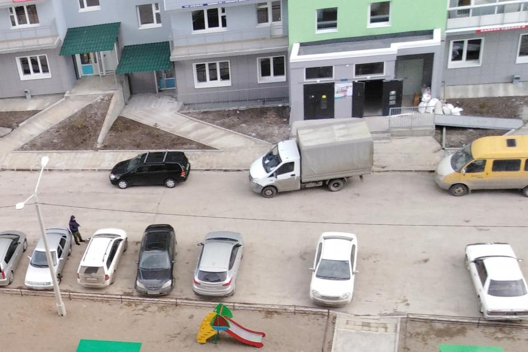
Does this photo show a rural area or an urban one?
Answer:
urban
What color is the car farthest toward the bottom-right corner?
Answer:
white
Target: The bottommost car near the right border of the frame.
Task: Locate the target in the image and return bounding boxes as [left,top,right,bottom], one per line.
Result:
[465,245,528,324]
